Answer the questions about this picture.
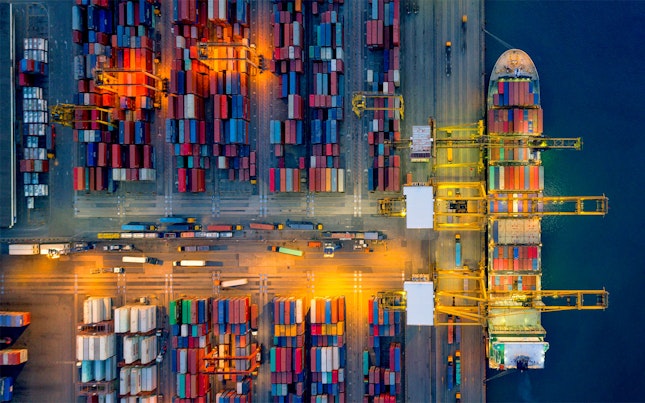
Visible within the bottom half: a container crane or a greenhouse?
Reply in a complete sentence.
There is a container crane within the bottom half.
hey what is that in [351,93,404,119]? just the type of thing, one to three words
container crane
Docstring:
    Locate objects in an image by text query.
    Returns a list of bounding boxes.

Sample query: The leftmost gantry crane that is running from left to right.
[35,104,114,129]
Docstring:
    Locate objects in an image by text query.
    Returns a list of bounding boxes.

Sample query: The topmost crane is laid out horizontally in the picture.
[195,42,261,71]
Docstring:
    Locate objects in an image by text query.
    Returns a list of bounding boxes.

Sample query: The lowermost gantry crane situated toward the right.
[379,258,608,327]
